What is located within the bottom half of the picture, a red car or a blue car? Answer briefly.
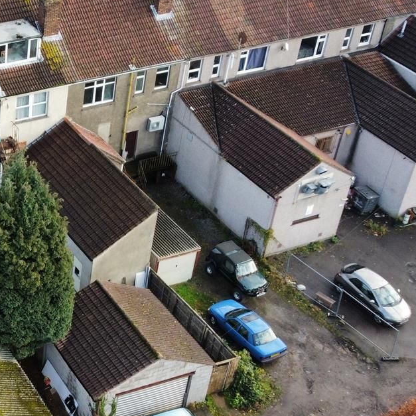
blue car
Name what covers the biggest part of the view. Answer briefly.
buildings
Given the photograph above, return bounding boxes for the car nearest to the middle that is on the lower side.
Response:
[207,236,278,303]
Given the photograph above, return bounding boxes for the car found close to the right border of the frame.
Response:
[333,264,416,329]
